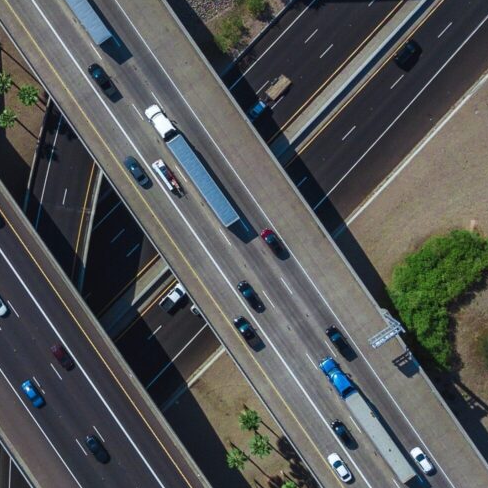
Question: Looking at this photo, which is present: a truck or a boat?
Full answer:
Looking from above, you can make out a truck.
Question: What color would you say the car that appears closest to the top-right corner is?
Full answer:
In this view, the car that appears closest to the top-right corner is black.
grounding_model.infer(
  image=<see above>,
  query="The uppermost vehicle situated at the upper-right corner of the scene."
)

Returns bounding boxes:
[394,41,420,68]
